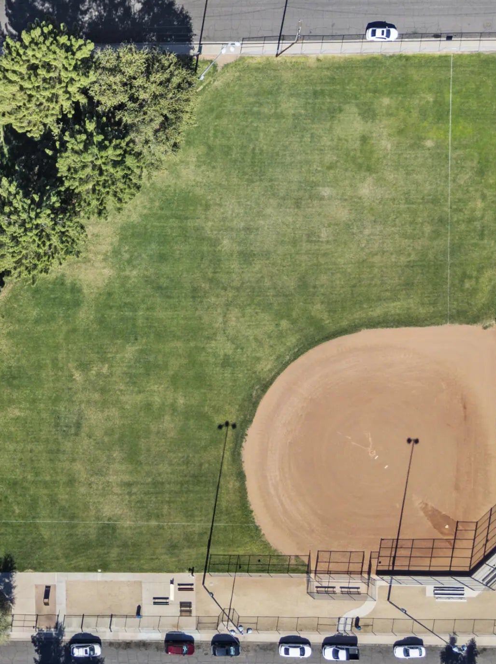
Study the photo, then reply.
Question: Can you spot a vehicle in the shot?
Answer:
Yes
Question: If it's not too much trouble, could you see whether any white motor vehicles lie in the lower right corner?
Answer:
Yes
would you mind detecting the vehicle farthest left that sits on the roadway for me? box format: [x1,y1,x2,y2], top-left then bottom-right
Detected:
[70,642,102,659]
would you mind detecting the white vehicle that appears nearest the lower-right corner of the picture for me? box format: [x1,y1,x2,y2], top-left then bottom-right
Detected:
[392,644,426,660]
